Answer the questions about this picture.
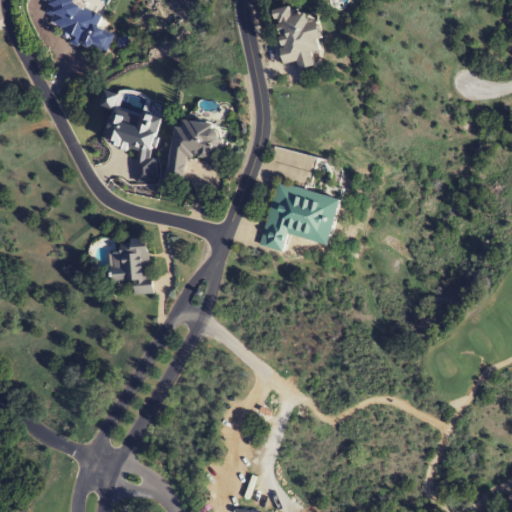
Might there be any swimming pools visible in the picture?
Yes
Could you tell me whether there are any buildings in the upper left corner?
Yes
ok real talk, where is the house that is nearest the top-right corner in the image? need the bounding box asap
[272,3,326,68]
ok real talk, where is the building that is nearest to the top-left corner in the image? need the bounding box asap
[46,0,116,50]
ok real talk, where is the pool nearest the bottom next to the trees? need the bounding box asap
[91,238,116,266]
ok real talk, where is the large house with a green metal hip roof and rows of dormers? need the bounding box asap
[260,184,342,252]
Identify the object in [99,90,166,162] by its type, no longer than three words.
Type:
house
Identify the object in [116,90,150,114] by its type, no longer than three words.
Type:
swimming pool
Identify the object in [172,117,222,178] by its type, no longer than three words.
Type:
house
